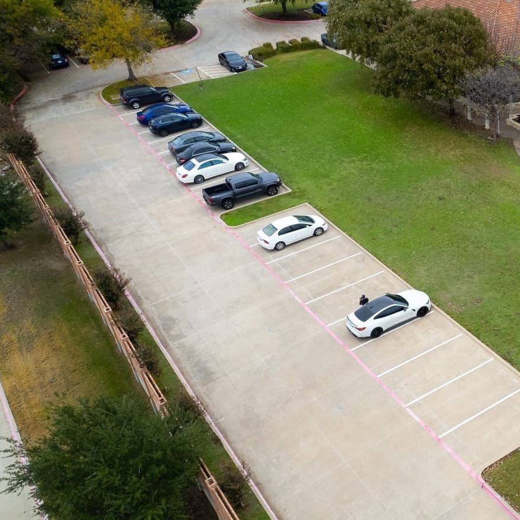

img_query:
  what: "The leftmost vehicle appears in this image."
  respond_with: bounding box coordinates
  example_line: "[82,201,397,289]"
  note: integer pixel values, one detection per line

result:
[42,49,73,69]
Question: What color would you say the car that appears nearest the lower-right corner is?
white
